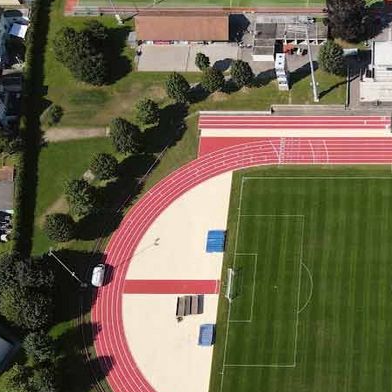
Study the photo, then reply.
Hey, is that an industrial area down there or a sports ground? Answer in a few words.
sports ground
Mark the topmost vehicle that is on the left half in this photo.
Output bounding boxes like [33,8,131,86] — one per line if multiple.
[91,265,109,287]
